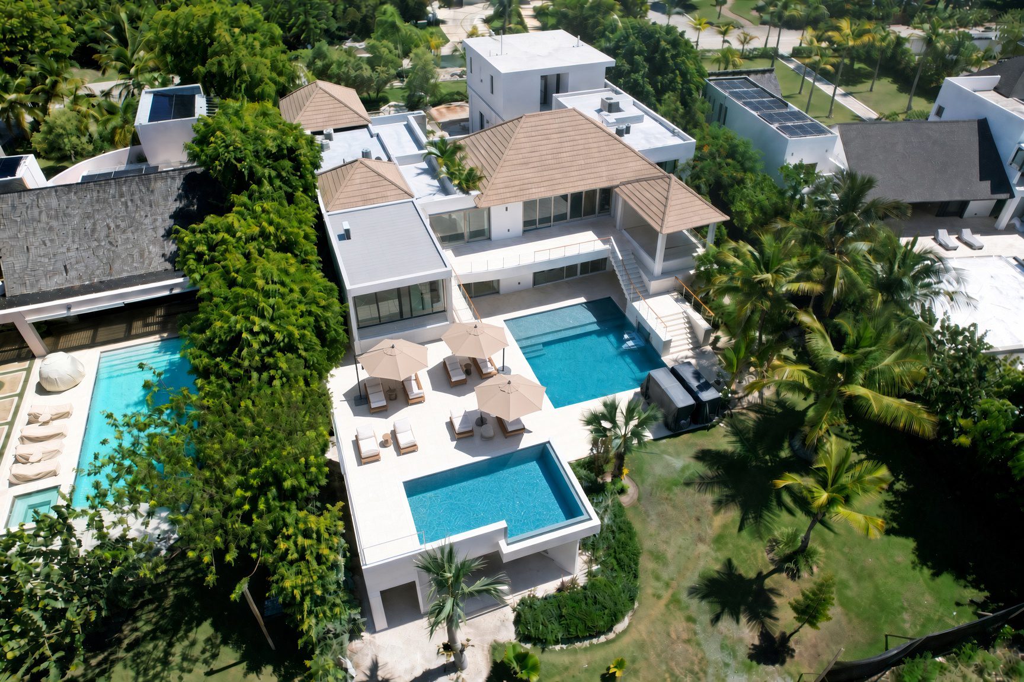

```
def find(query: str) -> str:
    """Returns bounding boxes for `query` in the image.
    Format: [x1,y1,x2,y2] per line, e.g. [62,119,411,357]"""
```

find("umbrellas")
[351,336,431,410]
[469,368,550,428]
[441,317,511,372]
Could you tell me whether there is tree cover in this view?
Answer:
Yes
